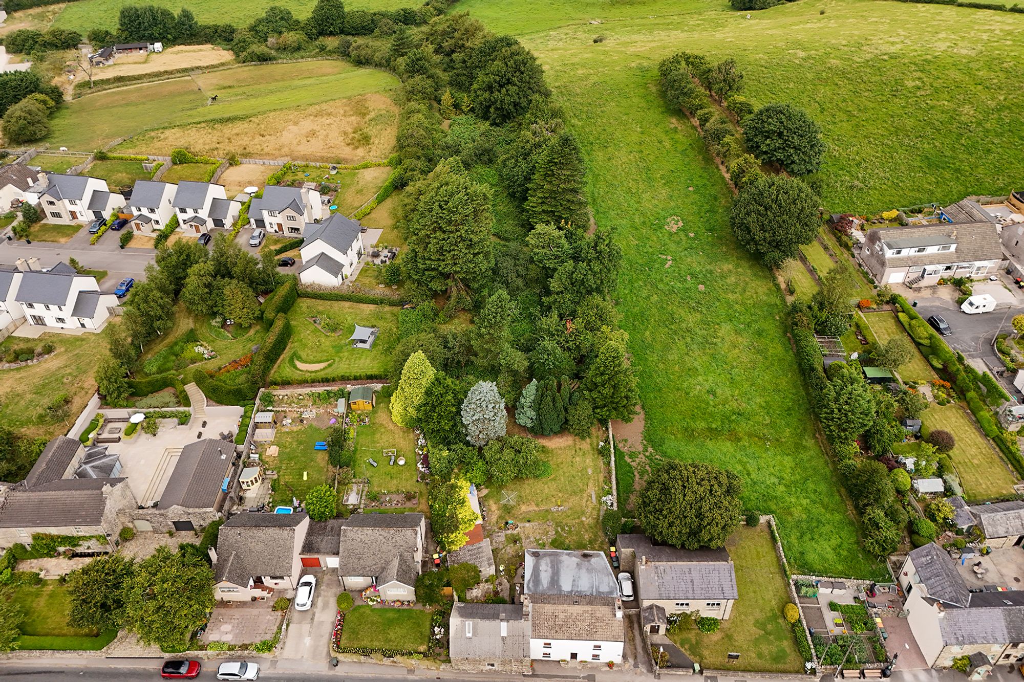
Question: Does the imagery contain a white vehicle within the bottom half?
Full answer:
Yes, within the bottom half there is a white vehicle.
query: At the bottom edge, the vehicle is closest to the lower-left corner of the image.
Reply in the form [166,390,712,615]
[160,658,202,679]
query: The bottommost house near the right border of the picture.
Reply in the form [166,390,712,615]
[907,590,1024,676]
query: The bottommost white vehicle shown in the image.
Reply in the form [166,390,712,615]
[215,660,261,682]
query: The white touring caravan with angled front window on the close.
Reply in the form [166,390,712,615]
[960,293,998,313]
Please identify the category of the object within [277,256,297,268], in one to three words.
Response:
vehicle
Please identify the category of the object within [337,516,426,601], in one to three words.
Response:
house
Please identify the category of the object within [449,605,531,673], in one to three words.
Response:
barn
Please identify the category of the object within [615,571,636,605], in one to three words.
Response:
car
